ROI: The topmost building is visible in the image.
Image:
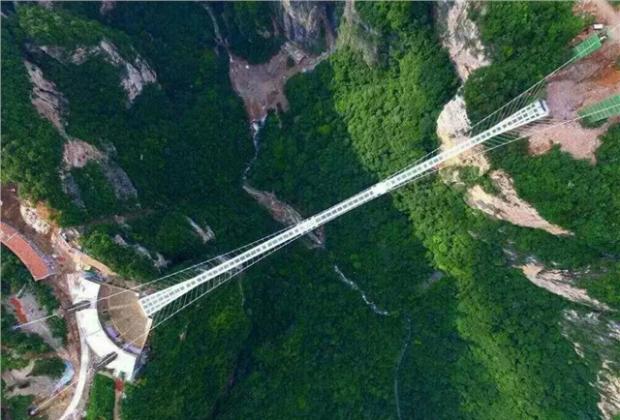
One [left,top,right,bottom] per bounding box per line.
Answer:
[0,220,54,280]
